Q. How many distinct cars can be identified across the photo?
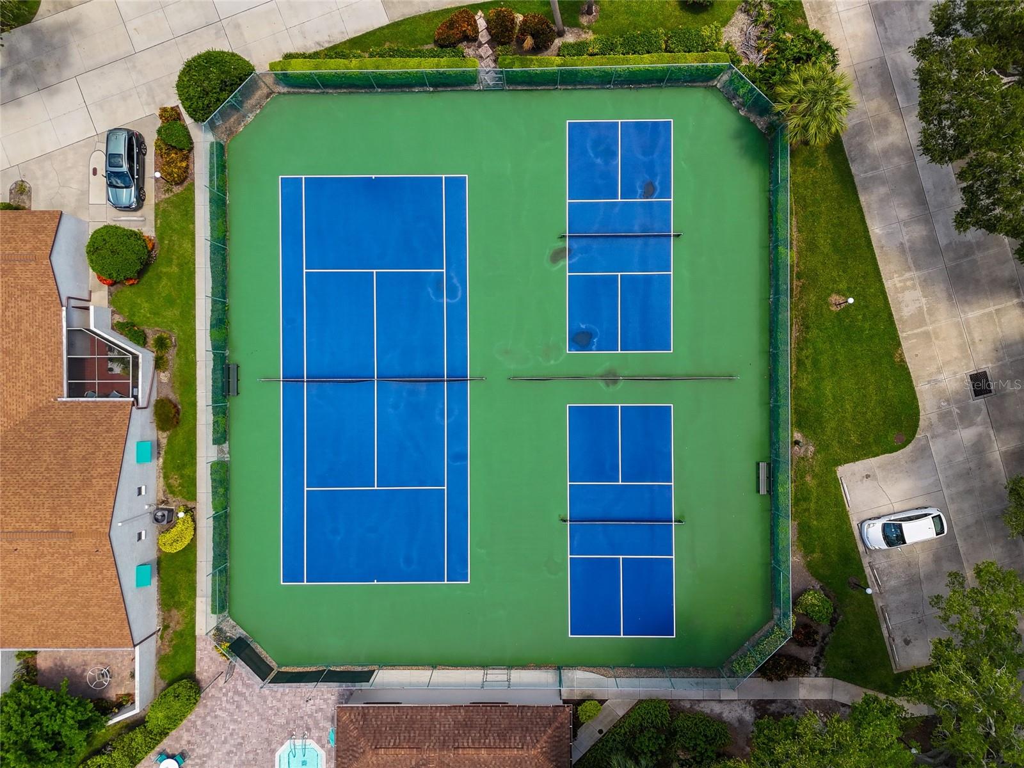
2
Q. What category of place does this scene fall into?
sports ground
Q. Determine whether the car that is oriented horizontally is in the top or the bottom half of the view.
bottom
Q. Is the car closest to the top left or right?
left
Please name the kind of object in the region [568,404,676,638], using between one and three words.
sports court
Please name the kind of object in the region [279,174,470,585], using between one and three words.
tennis court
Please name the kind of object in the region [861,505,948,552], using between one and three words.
car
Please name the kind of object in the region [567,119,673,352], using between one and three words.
sports court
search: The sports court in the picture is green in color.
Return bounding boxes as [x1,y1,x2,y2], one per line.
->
[227,86,771,667]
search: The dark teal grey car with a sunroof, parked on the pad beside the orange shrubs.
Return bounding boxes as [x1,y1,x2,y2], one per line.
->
[97,127,144,211]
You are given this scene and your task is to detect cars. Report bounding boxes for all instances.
[861,505,948,552]
[97,127,144,211]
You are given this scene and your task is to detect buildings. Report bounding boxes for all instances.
[333,687,574,768]
[0,211,160,648]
